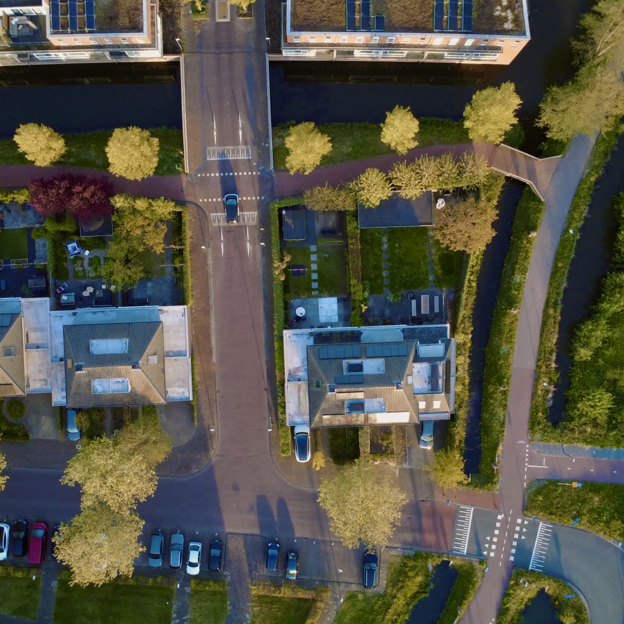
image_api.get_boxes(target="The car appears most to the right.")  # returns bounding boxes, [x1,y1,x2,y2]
[417,421,435,452]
